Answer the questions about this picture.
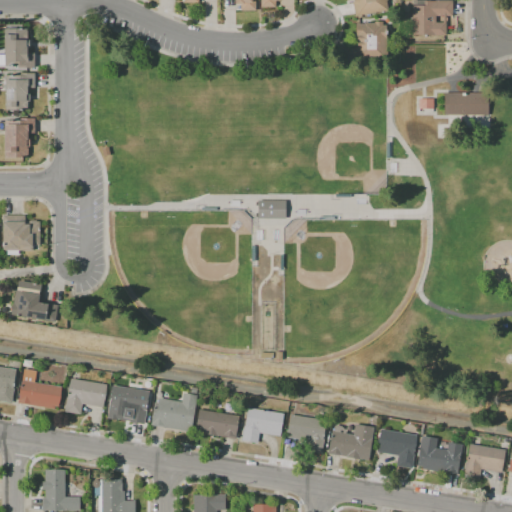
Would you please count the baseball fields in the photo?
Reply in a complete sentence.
My tally gives 3 baseball fields in this view.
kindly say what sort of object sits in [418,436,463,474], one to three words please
house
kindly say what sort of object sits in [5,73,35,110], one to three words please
house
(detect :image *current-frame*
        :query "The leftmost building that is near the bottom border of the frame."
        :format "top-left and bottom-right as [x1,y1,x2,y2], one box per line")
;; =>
[44,470,80,512]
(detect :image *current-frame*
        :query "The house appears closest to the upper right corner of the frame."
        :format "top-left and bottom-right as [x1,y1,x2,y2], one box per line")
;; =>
[410,0,454,34]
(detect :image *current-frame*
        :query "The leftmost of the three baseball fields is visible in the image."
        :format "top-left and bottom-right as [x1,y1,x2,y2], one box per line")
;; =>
[110,211,252,353]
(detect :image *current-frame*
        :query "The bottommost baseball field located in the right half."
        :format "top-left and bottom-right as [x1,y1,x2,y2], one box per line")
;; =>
[285,220,426,362]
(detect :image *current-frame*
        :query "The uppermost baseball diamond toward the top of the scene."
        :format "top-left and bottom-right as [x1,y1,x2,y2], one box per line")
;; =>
[272,76,387,194]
